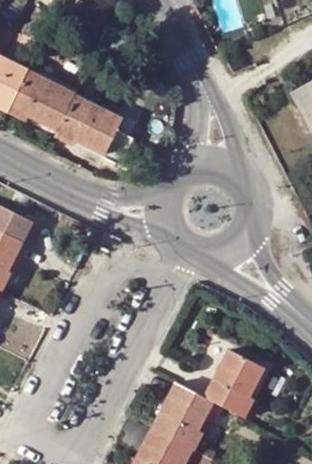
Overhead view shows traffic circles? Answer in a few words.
Yes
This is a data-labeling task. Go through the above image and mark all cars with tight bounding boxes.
[66,294,78,312]
[119,312,131,329]
[132,290,144,308]
[109,334,122,353]
[55,321,68,340]
[24,375,38,394]
[92,319,107,338]
[70,406,84,424]
[18,446,40,462]
[294,226,306,244]
[50,402,64,422]
[60,378,74,396]
[70,354,84,374]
